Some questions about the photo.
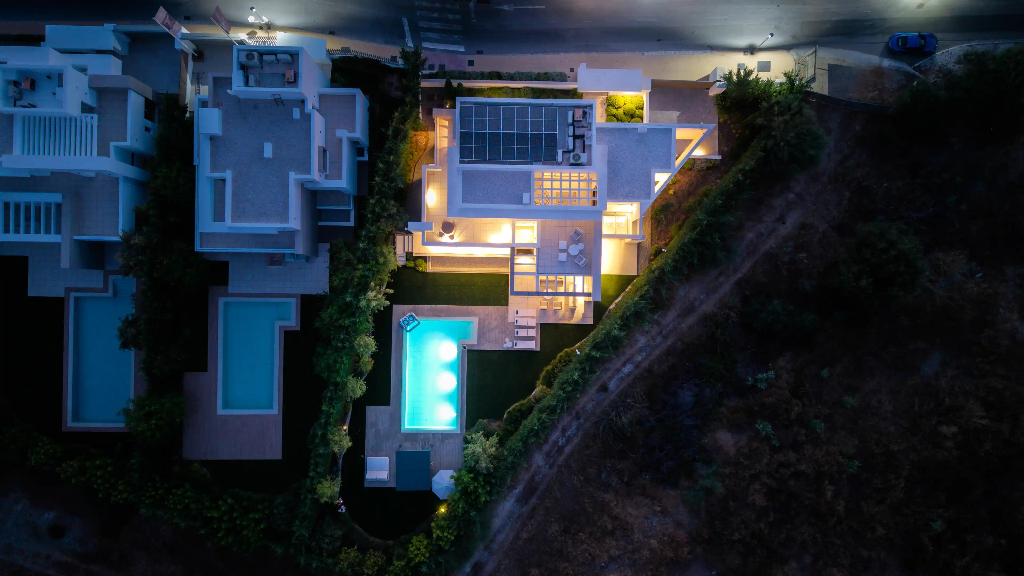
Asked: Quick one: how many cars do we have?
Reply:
1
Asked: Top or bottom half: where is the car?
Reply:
top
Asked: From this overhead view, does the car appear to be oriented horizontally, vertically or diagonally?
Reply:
horizontally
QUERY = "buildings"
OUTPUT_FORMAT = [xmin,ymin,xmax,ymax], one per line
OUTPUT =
[0,46,161,269]
[195,45,369,257]
[408,97,715,324]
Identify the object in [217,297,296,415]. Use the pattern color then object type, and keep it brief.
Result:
blue swimming pool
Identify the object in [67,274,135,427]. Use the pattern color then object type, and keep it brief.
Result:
blue swimming pool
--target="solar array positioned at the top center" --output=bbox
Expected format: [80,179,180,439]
[461,105,557,164]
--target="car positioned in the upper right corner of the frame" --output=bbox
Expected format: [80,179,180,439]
[891,27,941,53]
